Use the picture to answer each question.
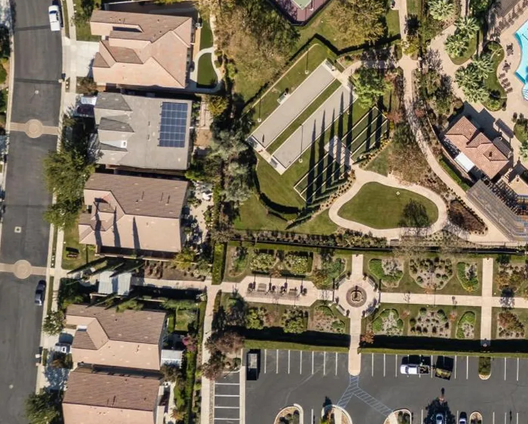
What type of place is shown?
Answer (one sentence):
What you see here is a residential area.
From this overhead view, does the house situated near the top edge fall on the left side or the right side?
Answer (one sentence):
You can find the house situated near the top edge on the left side of the picture.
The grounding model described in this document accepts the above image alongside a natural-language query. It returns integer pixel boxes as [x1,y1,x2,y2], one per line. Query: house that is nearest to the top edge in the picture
[88,10,196,88]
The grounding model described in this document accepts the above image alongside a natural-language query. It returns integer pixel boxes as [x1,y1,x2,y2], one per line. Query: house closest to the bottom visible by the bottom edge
[59,369,166,424]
